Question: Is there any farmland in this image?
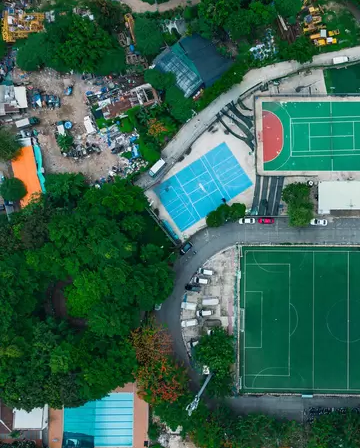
No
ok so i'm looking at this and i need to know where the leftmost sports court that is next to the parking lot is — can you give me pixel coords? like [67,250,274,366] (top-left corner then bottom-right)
[153,142,252,231]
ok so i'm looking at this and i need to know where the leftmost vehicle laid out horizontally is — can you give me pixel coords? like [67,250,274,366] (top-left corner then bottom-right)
[14,114,41,127]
